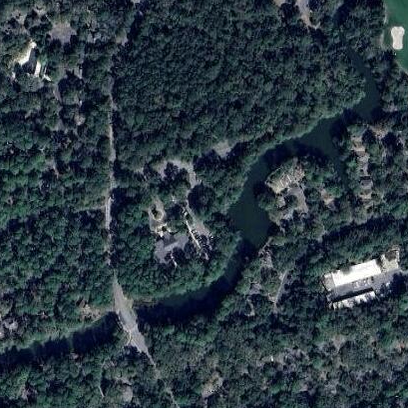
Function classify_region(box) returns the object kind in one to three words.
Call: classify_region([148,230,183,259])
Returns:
building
